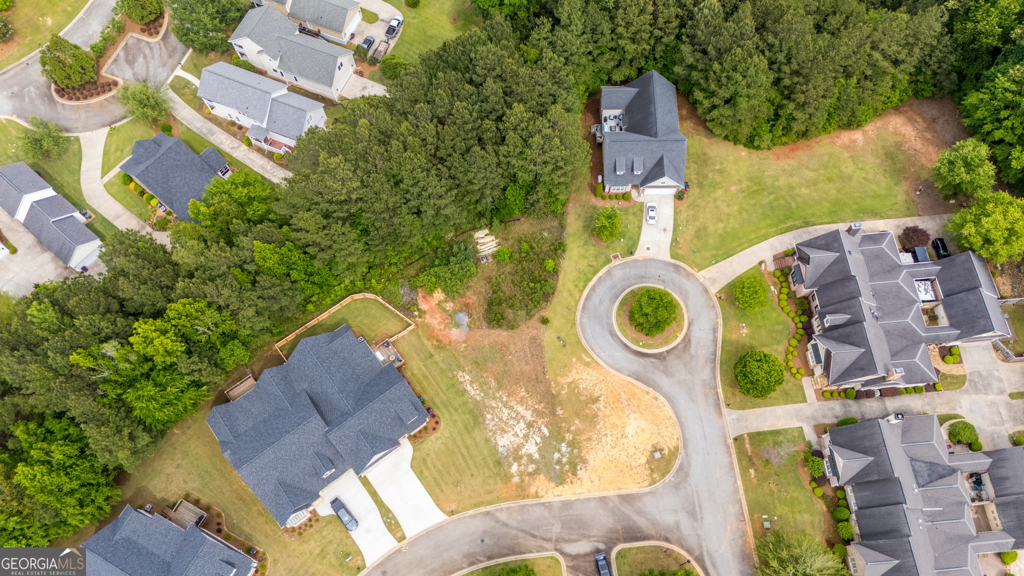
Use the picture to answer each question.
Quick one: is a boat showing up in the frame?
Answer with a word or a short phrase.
No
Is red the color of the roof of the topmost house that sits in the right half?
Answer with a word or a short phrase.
No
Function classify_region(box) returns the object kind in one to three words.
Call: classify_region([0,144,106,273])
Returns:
house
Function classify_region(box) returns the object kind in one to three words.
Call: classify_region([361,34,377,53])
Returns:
car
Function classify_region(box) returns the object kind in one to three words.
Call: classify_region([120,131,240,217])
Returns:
house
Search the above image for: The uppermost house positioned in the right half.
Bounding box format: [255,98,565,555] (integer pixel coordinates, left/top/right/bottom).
[600,70,687,195]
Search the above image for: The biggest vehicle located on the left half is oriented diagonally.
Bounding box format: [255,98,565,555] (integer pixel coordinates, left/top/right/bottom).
[329,494,360,535]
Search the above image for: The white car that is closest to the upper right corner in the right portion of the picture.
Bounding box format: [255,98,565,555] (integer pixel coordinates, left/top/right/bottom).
[645,201,658,227]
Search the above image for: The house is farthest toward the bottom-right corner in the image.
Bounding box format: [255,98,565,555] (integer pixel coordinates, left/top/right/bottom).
[820,406,1024,576]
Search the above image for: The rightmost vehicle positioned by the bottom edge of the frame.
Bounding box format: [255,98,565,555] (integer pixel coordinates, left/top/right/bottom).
[594,550,614,576]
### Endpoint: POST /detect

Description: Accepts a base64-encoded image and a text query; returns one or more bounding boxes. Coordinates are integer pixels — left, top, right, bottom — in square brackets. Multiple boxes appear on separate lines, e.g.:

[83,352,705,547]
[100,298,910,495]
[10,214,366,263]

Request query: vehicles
[329,494,360,535]
[931,235,952,262]
[383,16,404,41]
[594,550,614,576]
[361,34,377,53]
[645,201,658,227]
